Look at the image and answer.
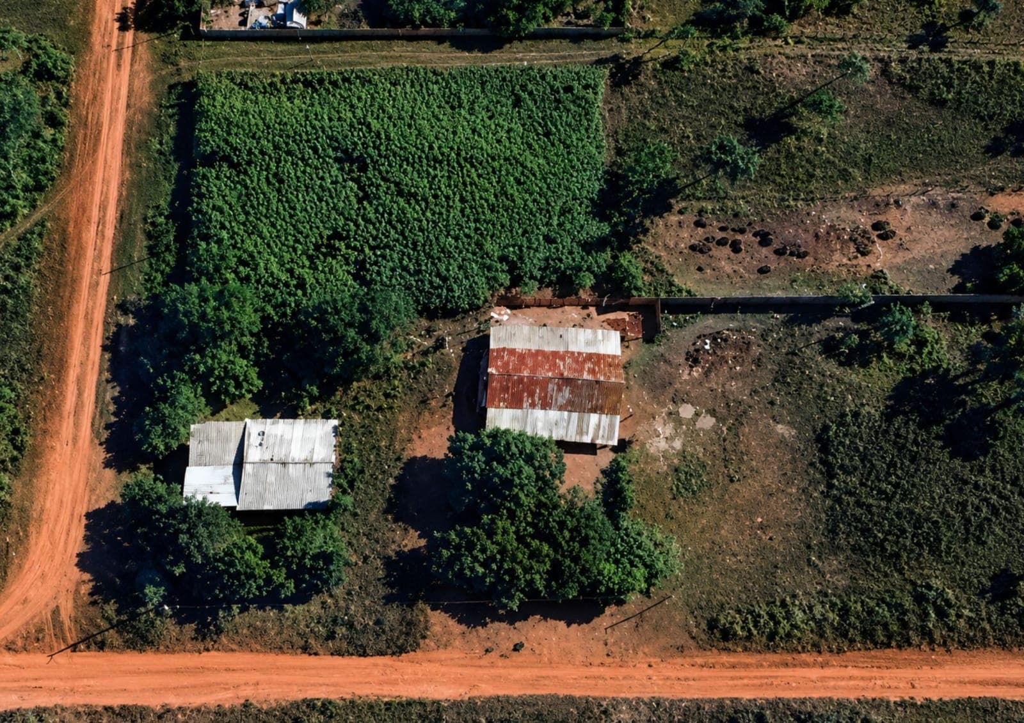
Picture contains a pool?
No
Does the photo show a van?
No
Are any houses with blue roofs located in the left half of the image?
No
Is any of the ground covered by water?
No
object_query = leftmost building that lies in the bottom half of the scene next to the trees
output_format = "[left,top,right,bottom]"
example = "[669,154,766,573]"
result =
[184,419,339,511]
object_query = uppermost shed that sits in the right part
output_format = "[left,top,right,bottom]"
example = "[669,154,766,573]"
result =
[605,312,642,341]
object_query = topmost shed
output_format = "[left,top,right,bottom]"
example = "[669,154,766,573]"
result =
[286,3,306,29]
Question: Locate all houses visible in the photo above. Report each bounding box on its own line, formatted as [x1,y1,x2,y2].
[184,419,339,511]
[477,325,625,447]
